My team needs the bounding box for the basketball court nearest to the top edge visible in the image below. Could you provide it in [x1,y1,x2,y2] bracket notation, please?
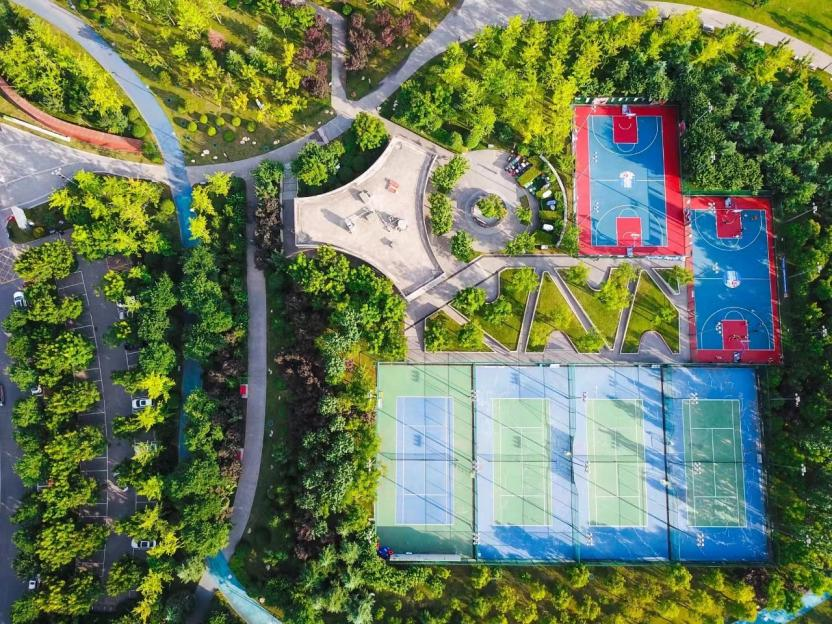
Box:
[574,106,686,256]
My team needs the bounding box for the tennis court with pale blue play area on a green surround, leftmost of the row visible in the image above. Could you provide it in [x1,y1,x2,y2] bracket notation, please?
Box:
[375,366,473,561]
